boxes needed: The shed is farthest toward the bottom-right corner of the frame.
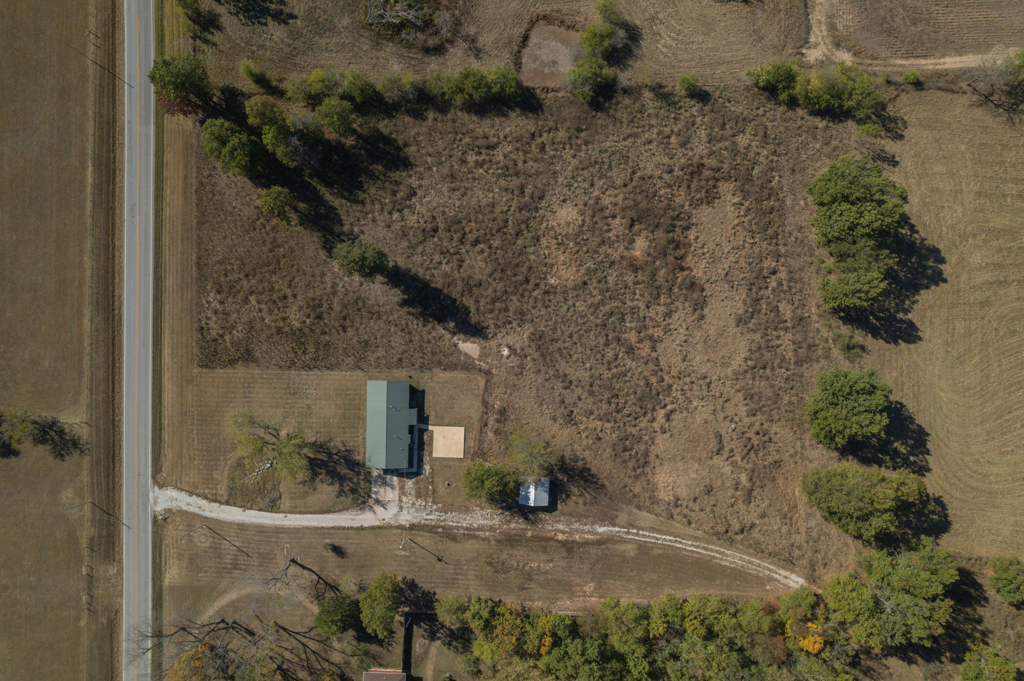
[520,476,549,508]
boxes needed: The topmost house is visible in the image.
[366,380,419,470]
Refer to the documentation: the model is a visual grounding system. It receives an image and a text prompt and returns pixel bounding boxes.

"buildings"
[363,666,407,681]
[366,380,419,470]
[520,476,549,508]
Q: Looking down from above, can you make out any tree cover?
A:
Yes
